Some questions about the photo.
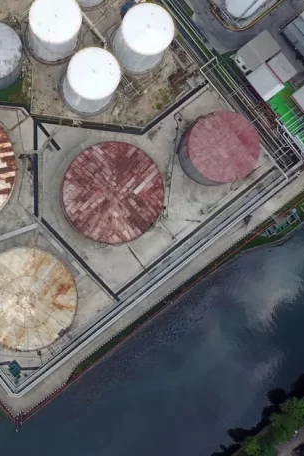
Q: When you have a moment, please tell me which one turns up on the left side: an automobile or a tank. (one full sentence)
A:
You can see a tank on the left side.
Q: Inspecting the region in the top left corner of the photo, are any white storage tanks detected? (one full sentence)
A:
Yes, I can see a white storage tank in the top left corner of the photo.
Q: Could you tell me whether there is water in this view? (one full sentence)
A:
Yes, some water is visible.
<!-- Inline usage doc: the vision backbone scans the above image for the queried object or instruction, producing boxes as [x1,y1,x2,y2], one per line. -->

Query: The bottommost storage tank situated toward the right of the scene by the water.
[175,111,262,190]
